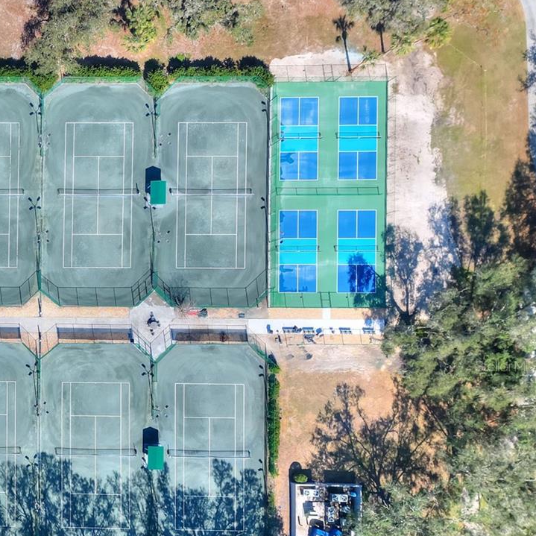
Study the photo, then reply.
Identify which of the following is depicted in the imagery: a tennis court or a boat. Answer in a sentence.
There is a tennis court in the scene.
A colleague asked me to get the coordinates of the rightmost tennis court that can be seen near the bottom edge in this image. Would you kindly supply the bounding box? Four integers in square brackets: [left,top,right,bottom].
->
[151,344,266,536]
